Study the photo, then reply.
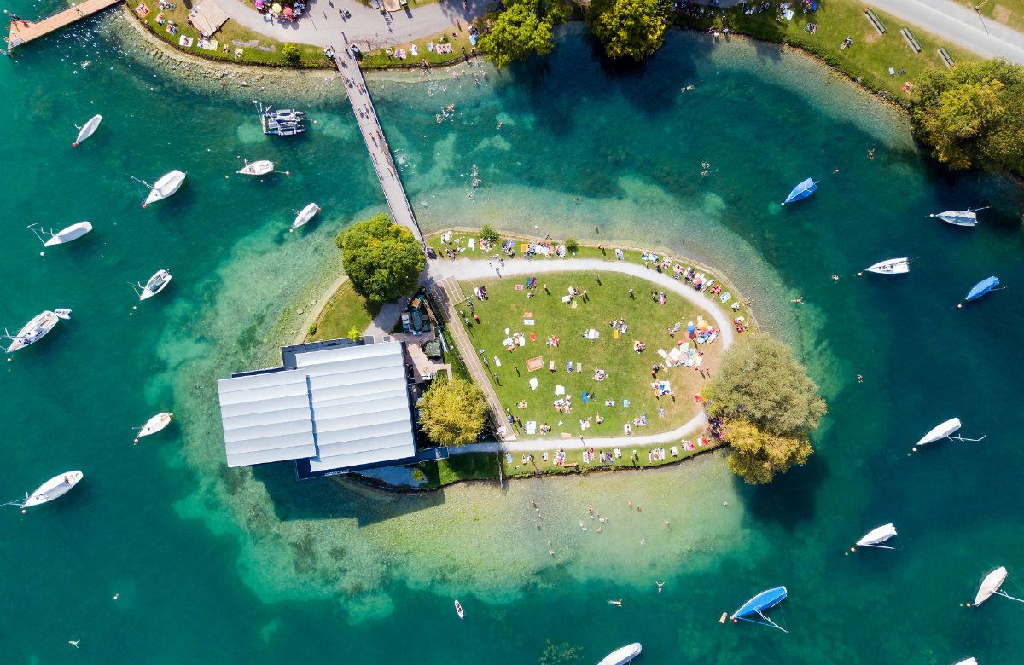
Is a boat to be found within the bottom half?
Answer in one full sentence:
Yes, there is a boat within the bottom half.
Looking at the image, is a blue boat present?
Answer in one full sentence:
Yes, a blue boat appears in the view.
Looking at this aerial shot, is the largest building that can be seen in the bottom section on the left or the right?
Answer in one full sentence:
The largest building that can be seen in the bottom section sits on the left side.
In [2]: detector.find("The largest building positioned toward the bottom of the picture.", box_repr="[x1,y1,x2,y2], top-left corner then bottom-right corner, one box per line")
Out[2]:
[218,334,448,481]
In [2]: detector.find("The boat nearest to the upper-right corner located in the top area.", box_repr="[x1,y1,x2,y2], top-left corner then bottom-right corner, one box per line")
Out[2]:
[935,200,991,226]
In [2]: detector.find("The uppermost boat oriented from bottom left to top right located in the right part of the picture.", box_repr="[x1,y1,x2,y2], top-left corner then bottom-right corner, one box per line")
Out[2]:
[784,178,820,204]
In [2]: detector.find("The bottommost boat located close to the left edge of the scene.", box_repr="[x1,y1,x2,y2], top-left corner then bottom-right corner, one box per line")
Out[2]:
[1,469,88,510]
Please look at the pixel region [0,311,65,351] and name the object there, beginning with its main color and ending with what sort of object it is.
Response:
white boat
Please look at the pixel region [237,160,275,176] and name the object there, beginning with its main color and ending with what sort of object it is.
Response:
white boat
